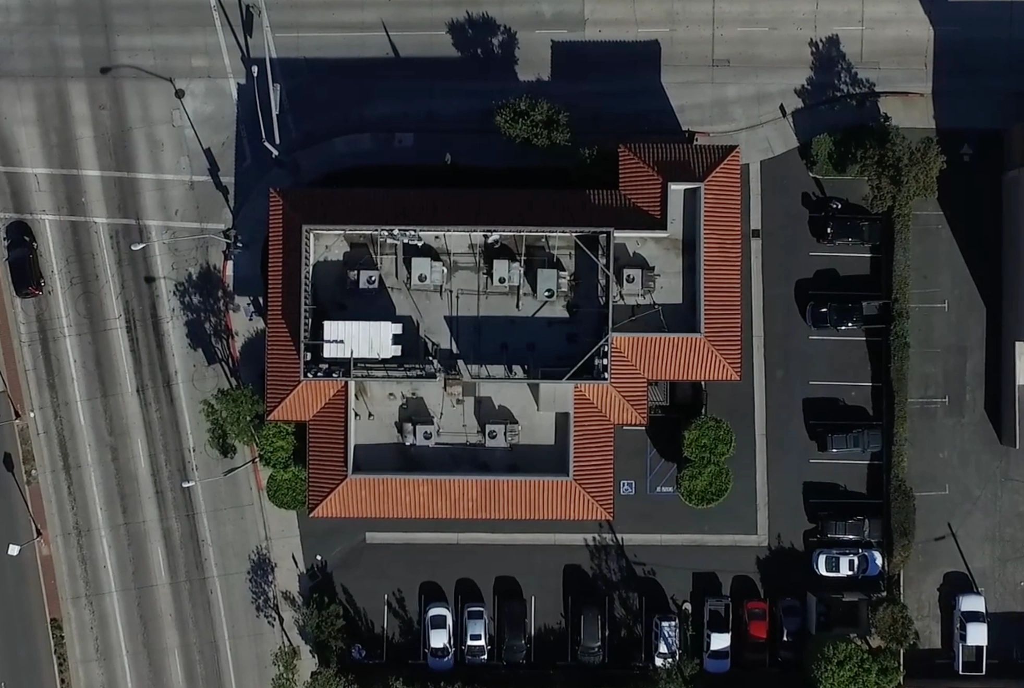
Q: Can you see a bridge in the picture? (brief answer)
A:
No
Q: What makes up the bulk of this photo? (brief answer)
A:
paved ground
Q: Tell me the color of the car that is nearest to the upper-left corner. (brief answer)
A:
black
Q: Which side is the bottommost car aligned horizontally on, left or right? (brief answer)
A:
right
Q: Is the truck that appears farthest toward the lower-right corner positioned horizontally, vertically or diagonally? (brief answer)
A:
vertically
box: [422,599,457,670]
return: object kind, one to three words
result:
car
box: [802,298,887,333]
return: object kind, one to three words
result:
truck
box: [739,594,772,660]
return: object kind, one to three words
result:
car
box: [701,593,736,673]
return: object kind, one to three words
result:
truck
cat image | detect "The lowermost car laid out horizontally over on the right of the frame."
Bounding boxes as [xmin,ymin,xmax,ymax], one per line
[809,546,881,580]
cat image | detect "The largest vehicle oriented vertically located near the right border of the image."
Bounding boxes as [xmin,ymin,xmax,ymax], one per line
[951,589,992,675]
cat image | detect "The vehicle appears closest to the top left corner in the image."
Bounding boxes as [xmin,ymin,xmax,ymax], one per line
[5,230,48,300]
